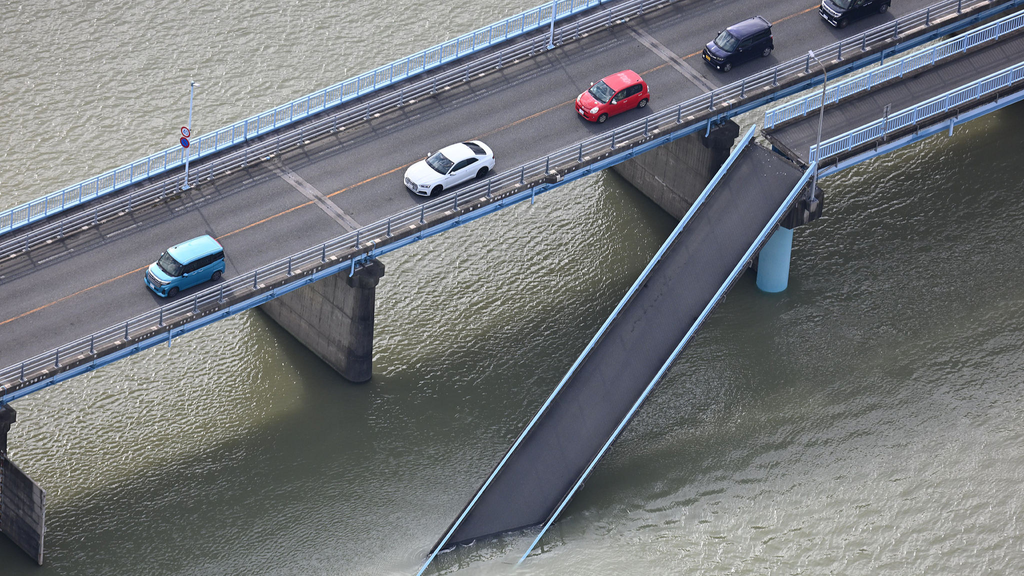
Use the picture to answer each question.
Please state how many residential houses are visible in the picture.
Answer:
0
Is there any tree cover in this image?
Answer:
No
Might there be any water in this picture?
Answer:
Yes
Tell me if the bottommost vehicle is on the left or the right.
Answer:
left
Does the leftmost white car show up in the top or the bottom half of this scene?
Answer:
top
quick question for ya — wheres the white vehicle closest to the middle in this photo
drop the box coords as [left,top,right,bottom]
[402,140,498,196]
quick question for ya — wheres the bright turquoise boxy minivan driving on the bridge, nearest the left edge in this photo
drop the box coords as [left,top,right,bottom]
[142,235,225,298]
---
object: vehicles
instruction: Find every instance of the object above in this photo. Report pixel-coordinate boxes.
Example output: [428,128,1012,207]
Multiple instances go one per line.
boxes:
[818,0,889,28]
[142,235,225,298]
[701,15,773,73]
[573,68,651,124]
[402,140,498,196]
